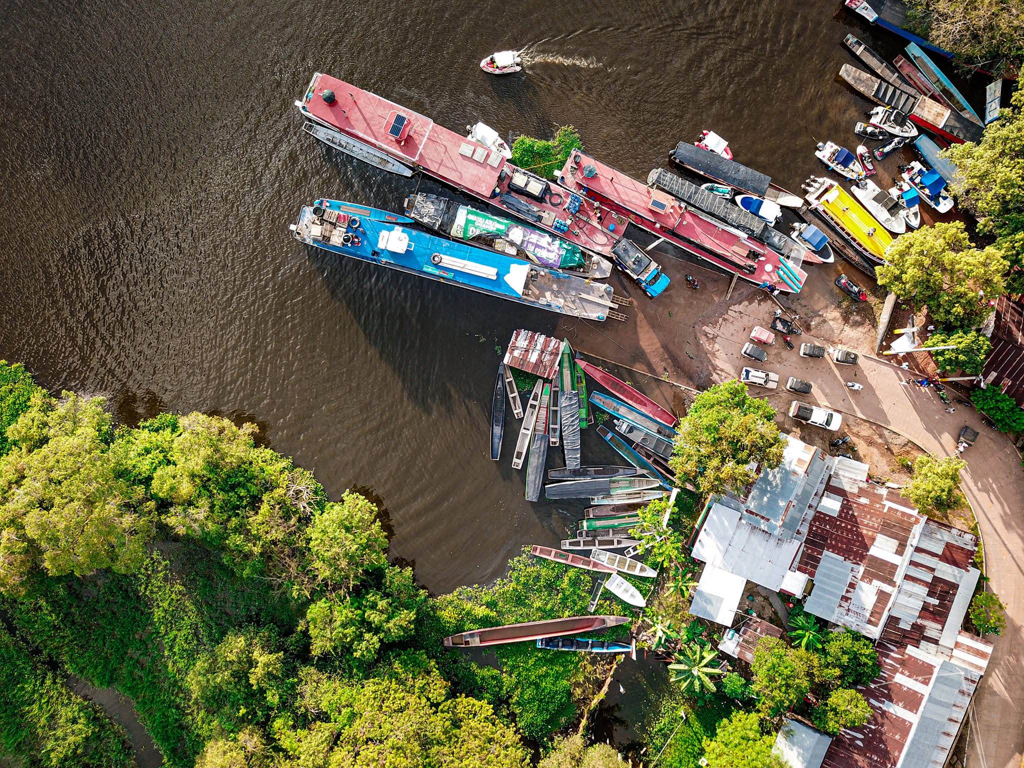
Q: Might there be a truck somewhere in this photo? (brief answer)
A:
Yes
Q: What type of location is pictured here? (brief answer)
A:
port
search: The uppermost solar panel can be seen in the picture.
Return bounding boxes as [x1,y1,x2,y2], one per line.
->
[389,114,408,138]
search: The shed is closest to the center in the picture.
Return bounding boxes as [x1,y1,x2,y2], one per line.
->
[501,325,568,382]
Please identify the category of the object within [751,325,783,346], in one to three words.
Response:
car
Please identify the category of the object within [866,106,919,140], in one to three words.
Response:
boat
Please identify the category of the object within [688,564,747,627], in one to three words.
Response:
shed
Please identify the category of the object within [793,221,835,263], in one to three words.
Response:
boat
